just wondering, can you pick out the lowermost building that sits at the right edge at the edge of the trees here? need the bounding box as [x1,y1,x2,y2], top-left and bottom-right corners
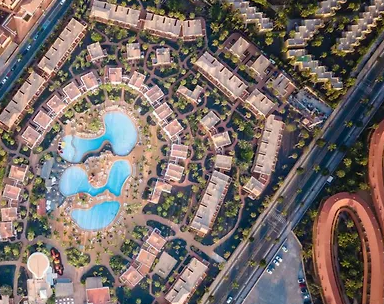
[311,193,384,304]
